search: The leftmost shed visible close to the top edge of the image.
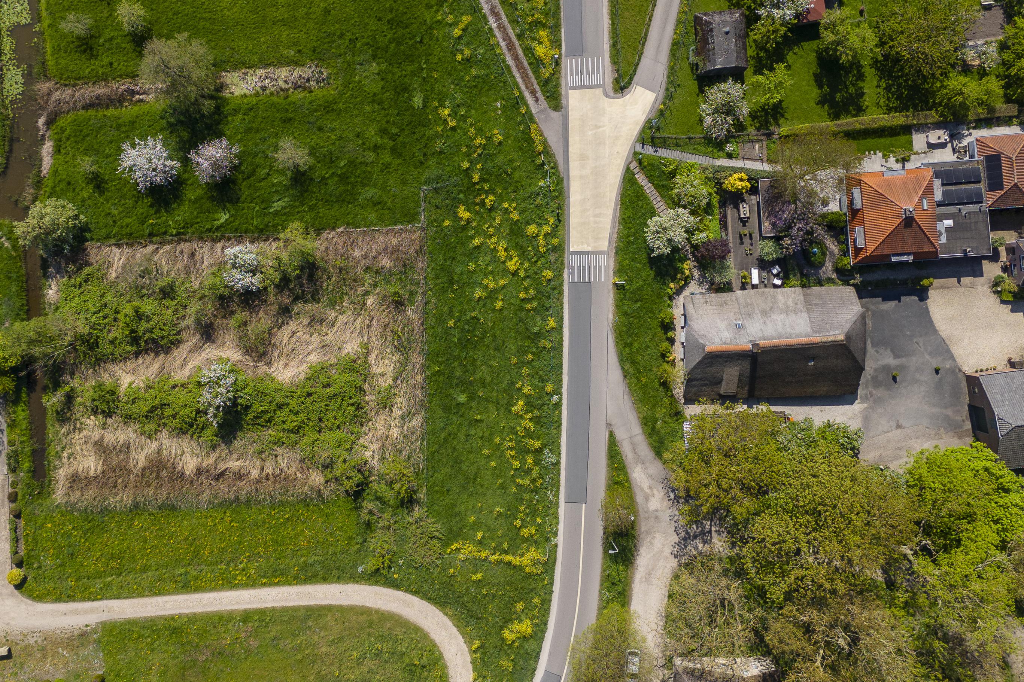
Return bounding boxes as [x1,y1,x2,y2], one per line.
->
[695,9,748,76]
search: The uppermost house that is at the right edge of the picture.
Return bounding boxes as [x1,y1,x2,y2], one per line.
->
[966,132,1024,209]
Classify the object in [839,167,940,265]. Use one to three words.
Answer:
house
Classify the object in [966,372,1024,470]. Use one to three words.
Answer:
barn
